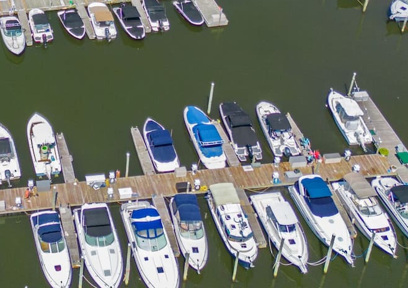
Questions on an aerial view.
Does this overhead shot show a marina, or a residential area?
marina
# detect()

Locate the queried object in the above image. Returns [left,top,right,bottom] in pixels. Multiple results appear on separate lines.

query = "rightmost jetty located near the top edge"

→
[193,0,229,30]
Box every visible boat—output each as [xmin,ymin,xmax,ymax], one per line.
[203,173,255,271]
[328,88,374,156]
[144,118,179,174]
[388,0,408,26]
[27,111,64,180]
[330,180,399,260]
[364,179,408,243]
[120,202,172,288]
[0,16,26,57]
[172,193,208,274]
[258,101,301,161]
[172,0,203,27]
[110,5,143,41]
[220,103,263,166]
[250,195,307,274]
[30,211,71,288]
[79,204,126,288]
[88,1,116,45]
[143,0,171,35]
[291,173,355,267]
[0,122,22,190]
[28,8,55,49]
[186,106,231,170]
[57,9,85,41]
